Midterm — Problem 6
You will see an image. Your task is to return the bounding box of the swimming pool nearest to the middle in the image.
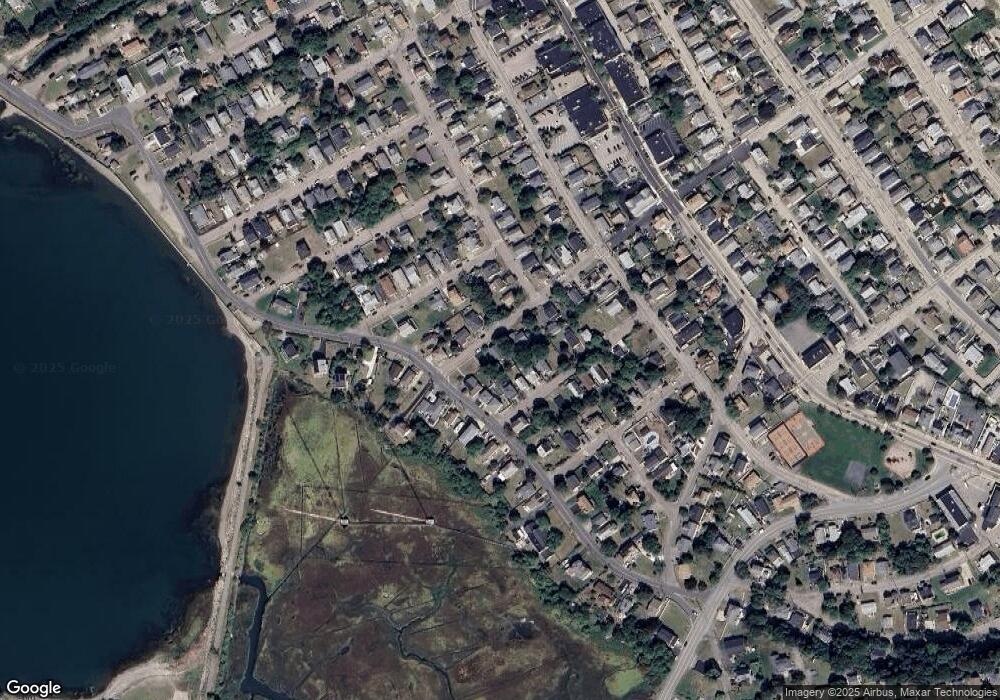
[644,431,661,446]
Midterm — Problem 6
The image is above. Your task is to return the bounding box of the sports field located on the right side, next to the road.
[793,402,936,499]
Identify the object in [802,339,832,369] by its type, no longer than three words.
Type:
building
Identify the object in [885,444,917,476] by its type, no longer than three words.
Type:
playground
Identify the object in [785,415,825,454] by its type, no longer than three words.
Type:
sports court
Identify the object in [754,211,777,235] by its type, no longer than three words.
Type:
house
